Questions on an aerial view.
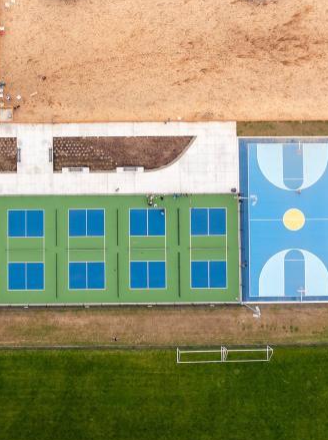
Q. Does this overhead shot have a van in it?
No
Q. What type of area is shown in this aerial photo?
sports ground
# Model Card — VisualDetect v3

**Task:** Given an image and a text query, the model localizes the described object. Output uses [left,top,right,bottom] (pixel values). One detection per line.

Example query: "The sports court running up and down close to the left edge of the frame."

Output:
[8,209,45,290]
